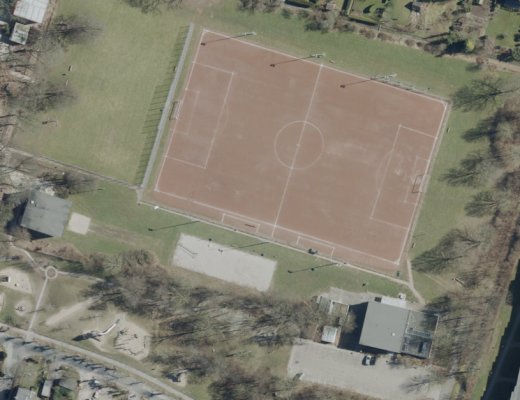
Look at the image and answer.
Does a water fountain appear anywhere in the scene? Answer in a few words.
No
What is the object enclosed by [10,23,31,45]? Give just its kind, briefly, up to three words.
building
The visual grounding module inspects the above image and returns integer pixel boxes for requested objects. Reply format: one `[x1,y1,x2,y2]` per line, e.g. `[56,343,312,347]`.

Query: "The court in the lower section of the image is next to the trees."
[172,233,278,292]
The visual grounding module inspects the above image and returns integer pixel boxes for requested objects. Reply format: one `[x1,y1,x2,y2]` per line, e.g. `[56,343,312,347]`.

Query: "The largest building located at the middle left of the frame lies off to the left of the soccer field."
[21,190,75,239]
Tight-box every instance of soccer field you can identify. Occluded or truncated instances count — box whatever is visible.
[152,26,450,278]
